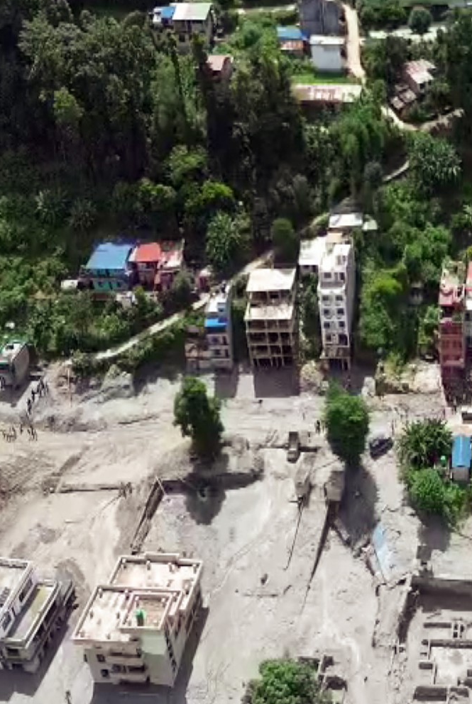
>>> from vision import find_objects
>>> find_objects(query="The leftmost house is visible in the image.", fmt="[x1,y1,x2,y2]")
[0,332,37,384]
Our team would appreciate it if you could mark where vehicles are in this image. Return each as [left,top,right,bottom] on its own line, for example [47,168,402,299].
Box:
[454,405,472,418]
[365,436,394,455]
